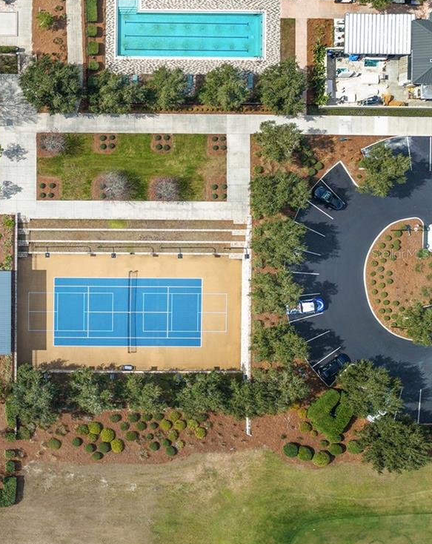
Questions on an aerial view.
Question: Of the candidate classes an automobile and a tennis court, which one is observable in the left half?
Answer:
tennis court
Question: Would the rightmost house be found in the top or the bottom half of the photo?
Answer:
top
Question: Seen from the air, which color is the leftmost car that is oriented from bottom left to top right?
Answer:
black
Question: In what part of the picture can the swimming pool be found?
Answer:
top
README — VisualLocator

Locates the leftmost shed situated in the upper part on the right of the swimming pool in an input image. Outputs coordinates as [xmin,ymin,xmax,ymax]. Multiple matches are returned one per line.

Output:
[335,14,412,59]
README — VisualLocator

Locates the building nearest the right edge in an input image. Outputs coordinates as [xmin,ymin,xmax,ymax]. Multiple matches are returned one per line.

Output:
[398,19,432,85]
